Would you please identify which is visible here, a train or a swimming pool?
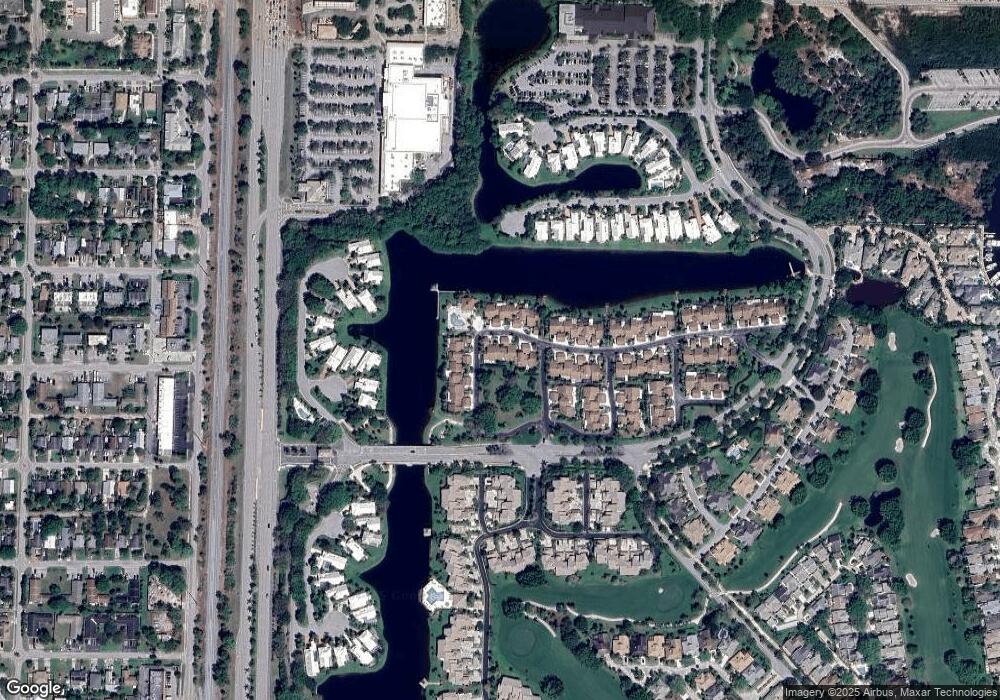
swimming pool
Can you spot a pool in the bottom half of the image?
Yes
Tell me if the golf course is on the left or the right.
right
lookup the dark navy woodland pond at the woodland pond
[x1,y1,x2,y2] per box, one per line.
[750,54,814,132]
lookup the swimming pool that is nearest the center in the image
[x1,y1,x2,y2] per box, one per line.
[448,305,483,331]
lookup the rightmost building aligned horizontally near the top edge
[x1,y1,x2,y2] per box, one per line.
[559,3,656,46]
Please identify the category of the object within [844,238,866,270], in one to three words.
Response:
house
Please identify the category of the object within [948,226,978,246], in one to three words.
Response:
house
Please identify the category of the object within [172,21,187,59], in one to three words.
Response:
building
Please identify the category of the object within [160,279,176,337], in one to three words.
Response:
building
